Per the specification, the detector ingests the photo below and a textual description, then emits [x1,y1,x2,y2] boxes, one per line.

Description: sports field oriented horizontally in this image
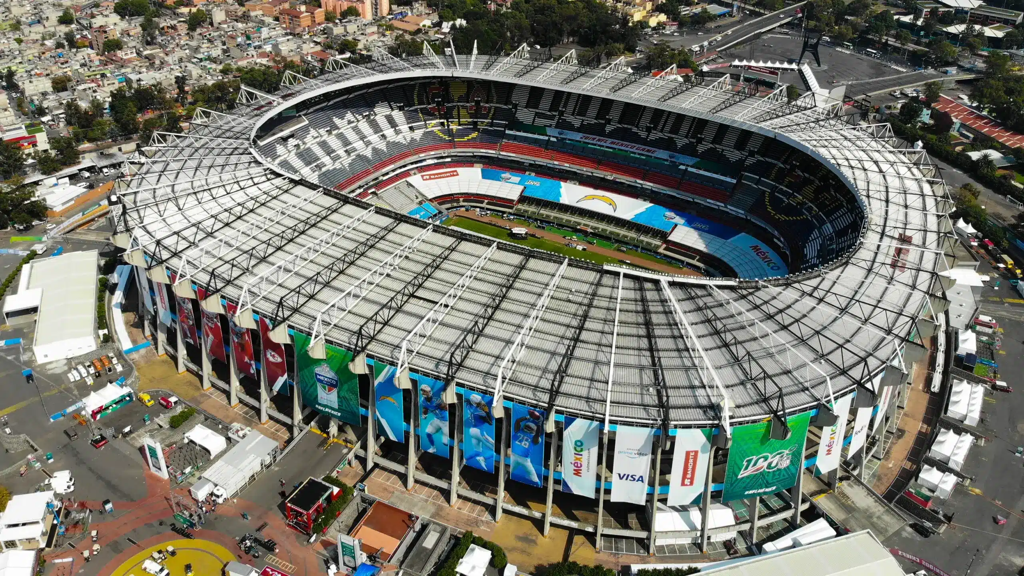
[443,222,651,268]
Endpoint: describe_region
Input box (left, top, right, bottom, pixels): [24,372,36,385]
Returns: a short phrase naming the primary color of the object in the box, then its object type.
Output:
black vehicle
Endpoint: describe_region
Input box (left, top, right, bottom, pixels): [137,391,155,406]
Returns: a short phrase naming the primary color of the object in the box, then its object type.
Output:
yellow vehicle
